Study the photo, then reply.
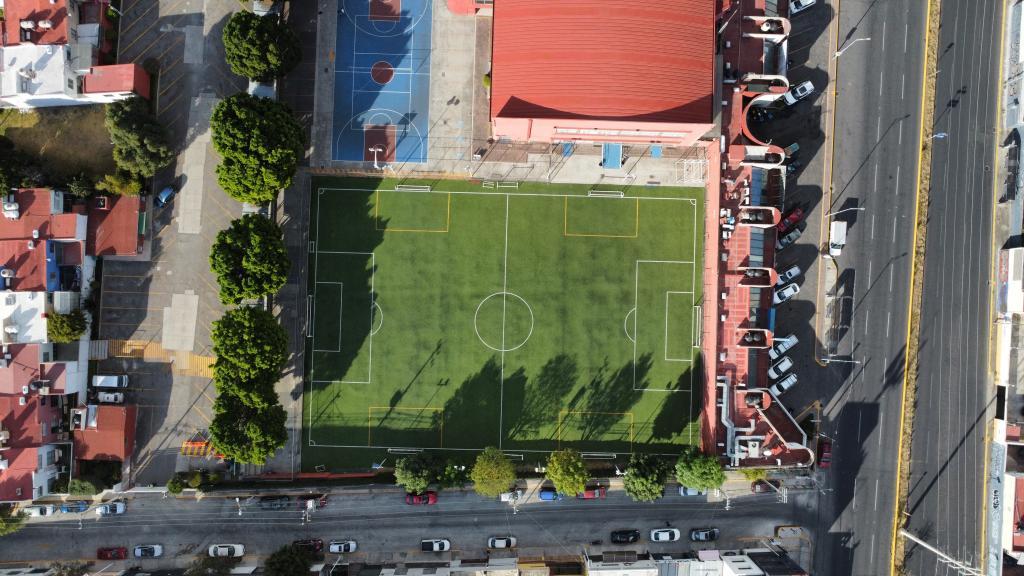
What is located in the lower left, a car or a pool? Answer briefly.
car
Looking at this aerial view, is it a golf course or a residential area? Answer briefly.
residential area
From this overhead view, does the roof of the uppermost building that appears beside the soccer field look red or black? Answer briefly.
red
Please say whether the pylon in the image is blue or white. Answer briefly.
white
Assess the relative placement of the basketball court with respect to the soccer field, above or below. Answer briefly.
above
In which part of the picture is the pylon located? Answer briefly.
bottom right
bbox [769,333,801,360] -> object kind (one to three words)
truck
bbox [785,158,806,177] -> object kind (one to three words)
car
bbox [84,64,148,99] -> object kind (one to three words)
building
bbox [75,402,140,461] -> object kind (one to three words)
house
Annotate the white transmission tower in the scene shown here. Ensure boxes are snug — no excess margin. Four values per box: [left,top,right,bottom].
[898,529,994,576]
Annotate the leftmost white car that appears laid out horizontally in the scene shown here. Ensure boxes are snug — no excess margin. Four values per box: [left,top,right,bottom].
[22,505,54,520]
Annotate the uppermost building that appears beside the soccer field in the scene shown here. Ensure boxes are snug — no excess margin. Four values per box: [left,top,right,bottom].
[487,0,721,141]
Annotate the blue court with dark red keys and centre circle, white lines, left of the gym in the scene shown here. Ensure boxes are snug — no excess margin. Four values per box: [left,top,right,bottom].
[332,0,432,163]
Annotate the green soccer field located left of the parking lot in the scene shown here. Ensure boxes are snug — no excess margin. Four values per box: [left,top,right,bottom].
[301,178,704,472]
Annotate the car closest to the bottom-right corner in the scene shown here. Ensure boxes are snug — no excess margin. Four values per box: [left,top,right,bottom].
[818,440,832,468]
